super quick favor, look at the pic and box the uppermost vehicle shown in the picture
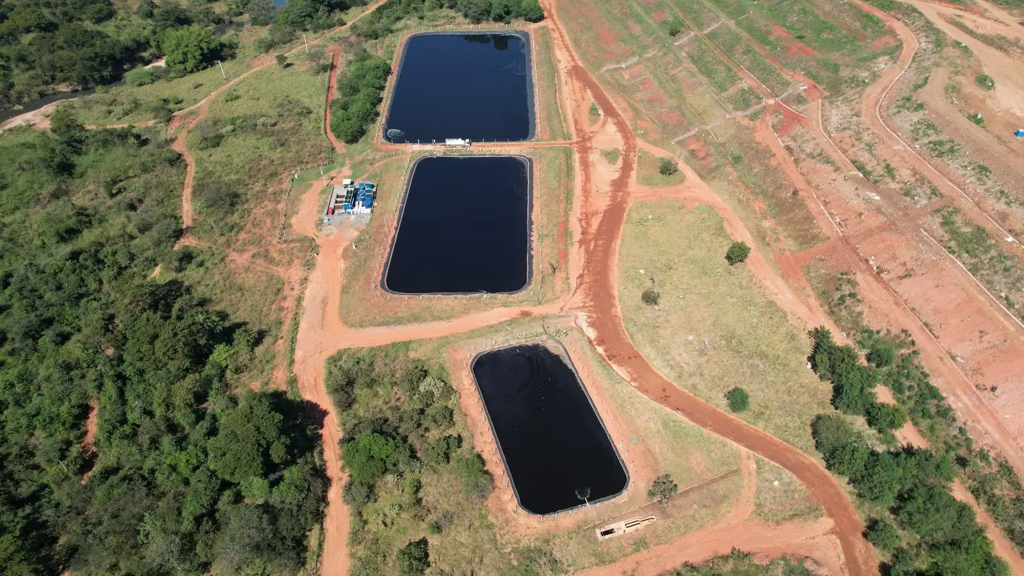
[445,135,472,147]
